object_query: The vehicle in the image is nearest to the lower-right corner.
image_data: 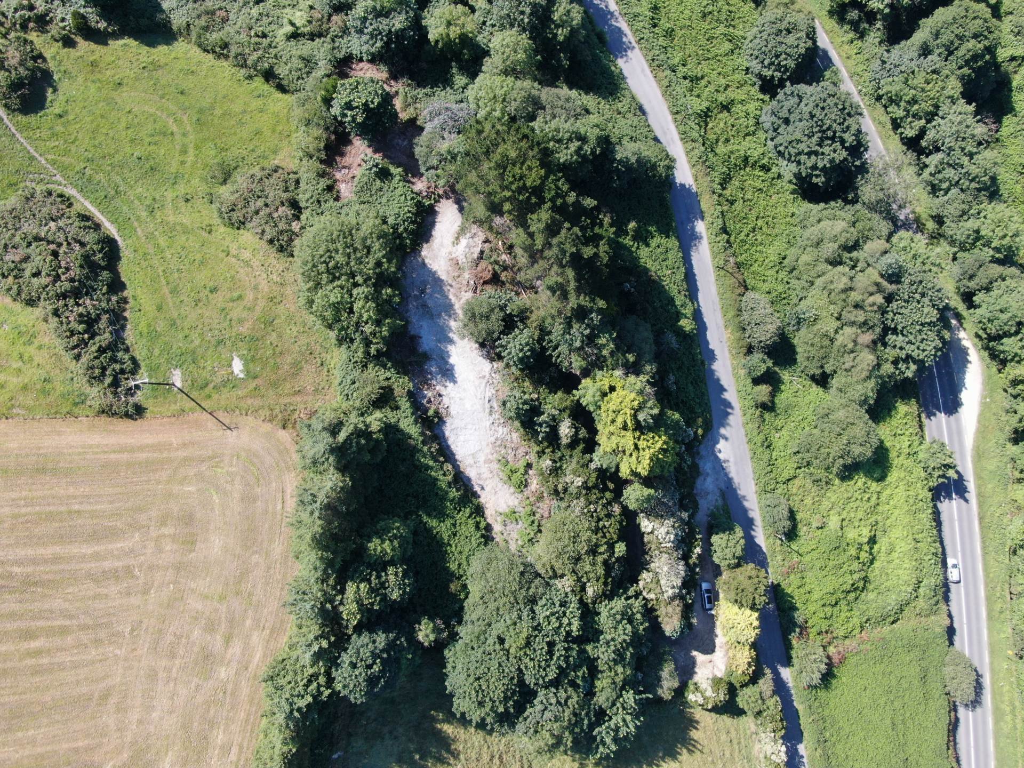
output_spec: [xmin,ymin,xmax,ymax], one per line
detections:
[944,557,960,583]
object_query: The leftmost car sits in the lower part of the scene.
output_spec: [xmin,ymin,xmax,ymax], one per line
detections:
[700,582,714,612]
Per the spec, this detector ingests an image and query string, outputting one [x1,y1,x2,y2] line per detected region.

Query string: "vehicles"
[944,557,960,583]
[700,582,714,612]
